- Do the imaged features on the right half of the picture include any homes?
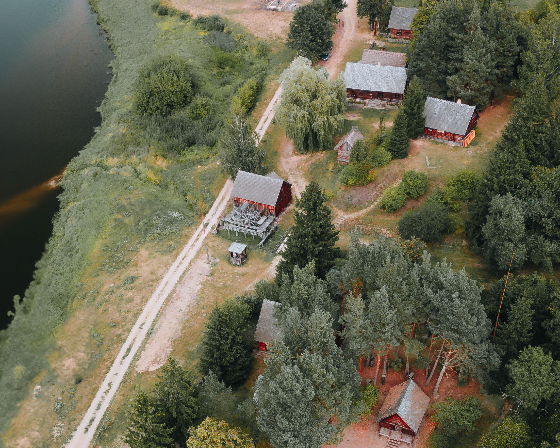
Yes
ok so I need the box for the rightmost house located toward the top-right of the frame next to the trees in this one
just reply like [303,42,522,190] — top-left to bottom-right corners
[420,96,481,148]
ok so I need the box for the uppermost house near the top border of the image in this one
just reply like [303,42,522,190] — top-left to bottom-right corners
[388,11,416,38]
